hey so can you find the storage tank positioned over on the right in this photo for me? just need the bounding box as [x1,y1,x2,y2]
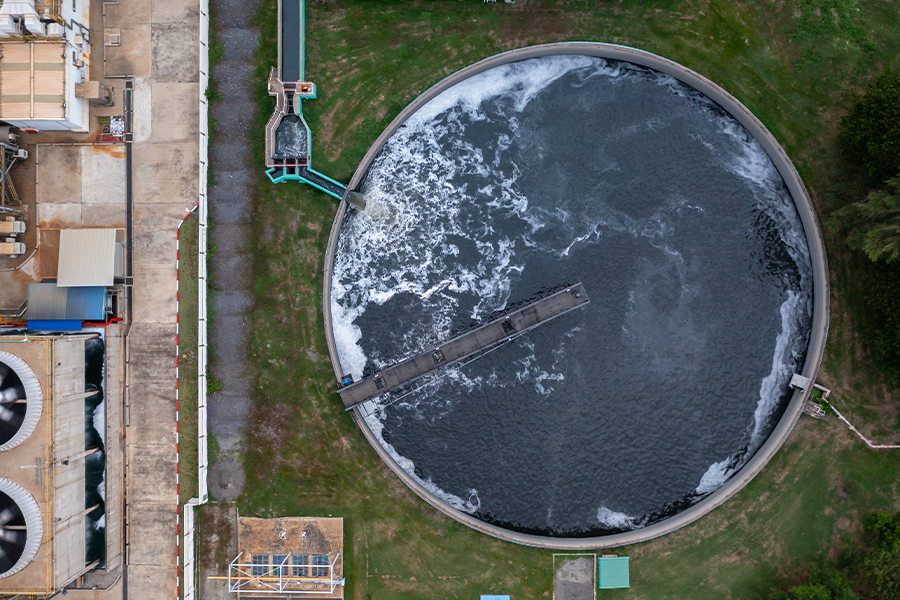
[322,40,831,551]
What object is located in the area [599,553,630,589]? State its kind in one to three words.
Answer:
shed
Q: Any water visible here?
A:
Yes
